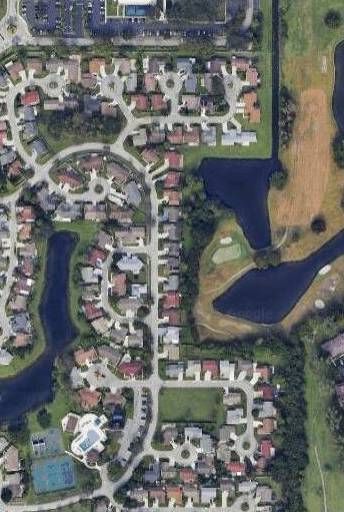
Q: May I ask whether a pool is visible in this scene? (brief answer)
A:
Yes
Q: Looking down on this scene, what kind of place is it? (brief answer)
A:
residential area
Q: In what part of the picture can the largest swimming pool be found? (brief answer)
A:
bottom left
